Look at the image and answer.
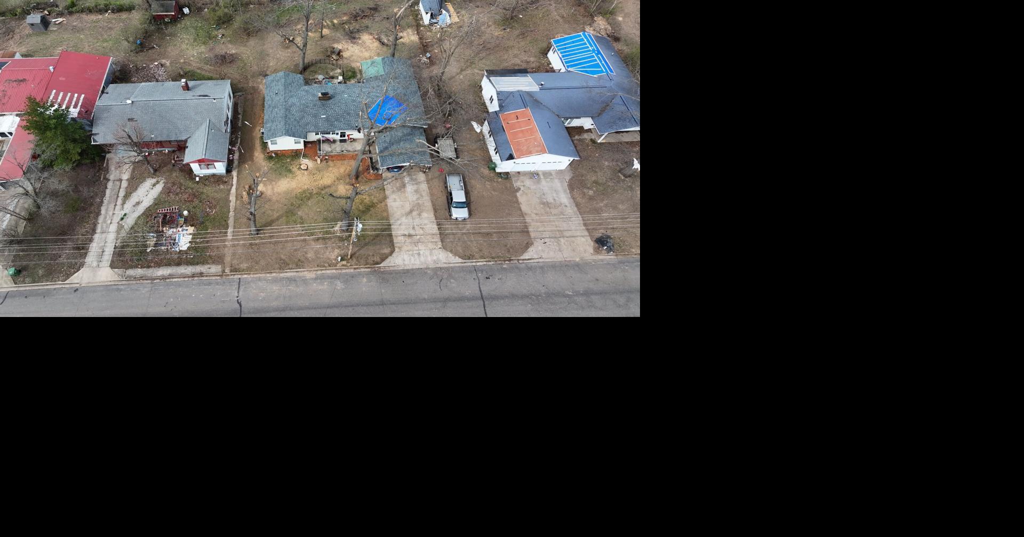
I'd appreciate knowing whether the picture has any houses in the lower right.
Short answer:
No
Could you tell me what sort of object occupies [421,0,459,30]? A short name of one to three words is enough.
shed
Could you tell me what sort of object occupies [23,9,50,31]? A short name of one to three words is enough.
shed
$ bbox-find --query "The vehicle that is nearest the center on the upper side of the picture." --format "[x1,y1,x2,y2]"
[441,170,471,223]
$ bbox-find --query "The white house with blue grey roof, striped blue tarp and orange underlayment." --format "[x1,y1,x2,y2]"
[480,30,641,172]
